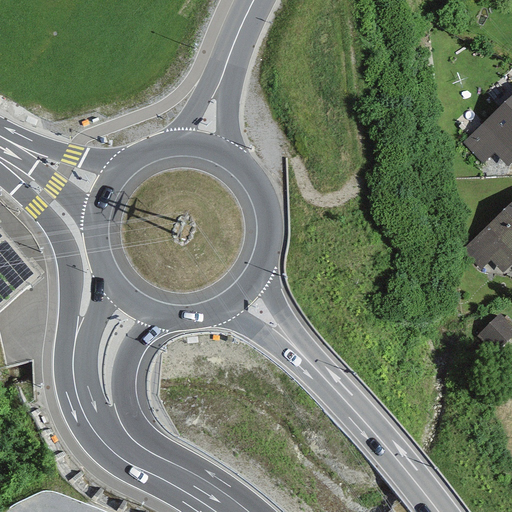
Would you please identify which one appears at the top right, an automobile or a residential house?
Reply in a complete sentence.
The feature located at the top right is a residential house.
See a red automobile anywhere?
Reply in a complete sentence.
No, no red automobile can be seen from above.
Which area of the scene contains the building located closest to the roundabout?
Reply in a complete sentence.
Look in the left portion of the view to spot the building located closest to the roundabout.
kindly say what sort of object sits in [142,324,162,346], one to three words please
car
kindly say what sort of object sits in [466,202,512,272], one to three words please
house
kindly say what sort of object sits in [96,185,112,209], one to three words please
car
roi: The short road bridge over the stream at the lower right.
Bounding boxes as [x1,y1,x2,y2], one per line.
[338,422,466,512]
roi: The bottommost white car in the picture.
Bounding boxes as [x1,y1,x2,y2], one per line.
[128,467,149,484]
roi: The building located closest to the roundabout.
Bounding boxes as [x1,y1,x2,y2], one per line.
[0,227,44,310]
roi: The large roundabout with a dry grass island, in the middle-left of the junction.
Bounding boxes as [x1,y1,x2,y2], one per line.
[80,127,284,332]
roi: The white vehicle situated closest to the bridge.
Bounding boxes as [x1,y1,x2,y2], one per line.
[282,346,302,367]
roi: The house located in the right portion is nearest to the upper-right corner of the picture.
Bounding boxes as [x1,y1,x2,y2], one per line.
[464,95,512,170]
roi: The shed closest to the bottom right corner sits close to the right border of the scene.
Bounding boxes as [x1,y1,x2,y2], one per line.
[478,312,512,348]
